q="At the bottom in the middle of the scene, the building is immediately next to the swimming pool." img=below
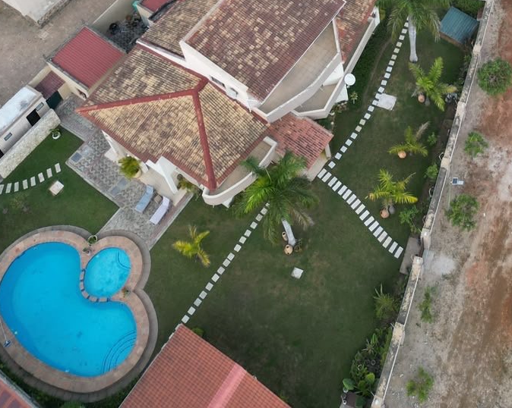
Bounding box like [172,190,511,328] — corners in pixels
[122,325,292,408]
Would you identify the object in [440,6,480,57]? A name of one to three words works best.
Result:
shed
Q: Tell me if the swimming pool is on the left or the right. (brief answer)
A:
left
